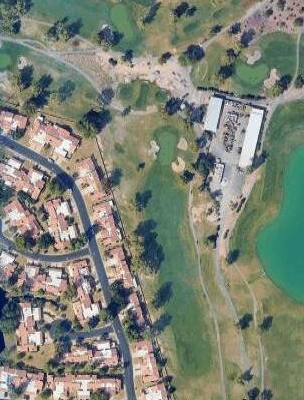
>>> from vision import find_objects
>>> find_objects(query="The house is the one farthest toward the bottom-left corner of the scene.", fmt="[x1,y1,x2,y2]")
[0,364,46,398]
